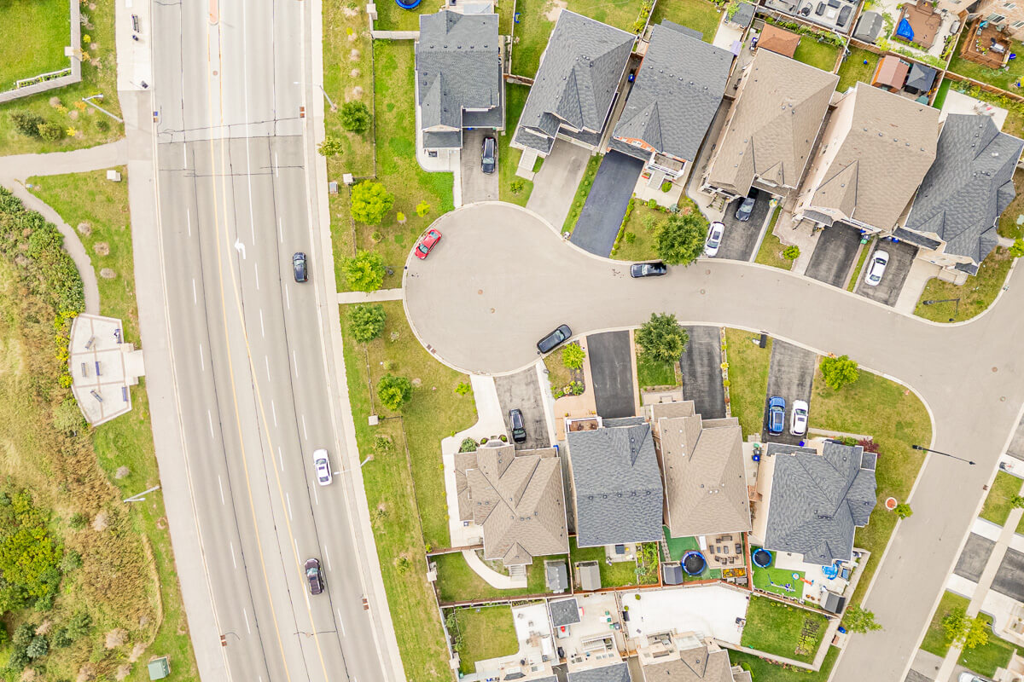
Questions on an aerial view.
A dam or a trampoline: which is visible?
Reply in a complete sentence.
Visible in the photo is a trampoline.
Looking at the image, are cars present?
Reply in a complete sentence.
Yes, I can see a car in this picture.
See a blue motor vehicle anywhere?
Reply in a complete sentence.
Yes, the picture does show a blue motor vehicle.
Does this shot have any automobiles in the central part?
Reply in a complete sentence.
Yes, the scene does show an automobile in the central part.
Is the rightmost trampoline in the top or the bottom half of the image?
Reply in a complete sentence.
You can find the rightmost trampoline in the bottom half.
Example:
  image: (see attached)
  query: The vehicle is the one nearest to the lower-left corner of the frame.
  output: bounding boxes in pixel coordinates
[304,557,325,596]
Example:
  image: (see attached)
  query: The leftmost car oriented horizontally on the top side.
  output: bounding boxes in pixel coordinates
[630,261,667,278]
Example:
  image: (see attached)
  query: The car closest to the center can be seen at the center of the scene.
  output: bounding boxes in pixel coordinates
[536,323,573,355]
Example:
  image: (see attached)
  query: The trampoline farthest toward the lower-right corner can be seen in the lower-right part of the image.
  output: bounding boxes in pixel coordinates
[751,548,775,570]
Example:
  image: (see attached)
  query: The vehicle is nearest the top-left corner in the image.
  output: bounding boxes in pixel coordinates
[290,250,309,284]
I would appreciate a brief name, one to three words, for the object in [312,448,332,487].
car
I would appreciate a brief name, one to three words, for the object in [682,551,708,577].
trampoline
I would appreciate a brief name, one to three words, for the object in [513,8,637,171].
house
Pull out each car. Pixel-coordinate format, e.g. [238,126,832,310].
[312,448,332,487]
[509,407,527,443]
[480,136,497,173]
[736,190,759,222]
[290,250,309,284]
[630,261,667,278]
[789,399,809,436]
[766,396,786,434]
[864,248,888,286]
[304,557,325,596]
[704,220,725,257]
[536,323,573,355]
[957,669,993,682]
[415,228,442,260]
